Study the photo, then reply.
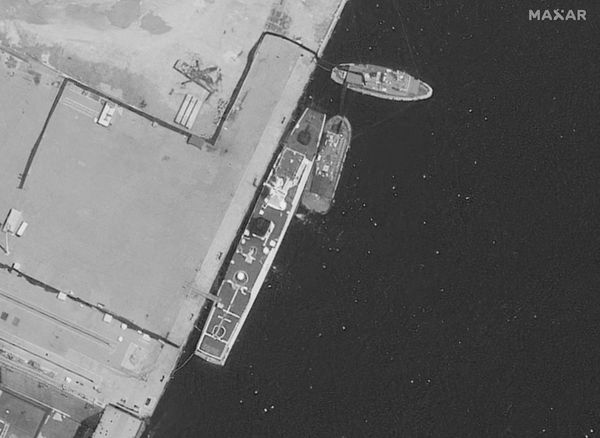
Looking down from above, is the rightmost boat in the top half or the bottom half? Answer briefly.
top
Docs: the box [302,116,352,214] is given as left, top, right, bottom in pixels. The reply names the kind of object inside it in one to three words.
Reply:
boat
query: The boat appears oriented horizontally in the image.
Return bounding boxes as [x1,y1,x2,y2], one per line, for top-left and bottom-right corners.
[331,64,434,103]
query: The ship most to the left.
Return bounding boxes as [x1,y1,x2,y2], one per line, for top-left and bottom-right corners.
[195,107,326,366]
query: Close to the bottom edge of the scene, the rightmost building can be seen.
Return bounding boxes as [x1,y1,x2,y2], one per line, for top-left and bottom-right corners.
[93,403,147,438]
